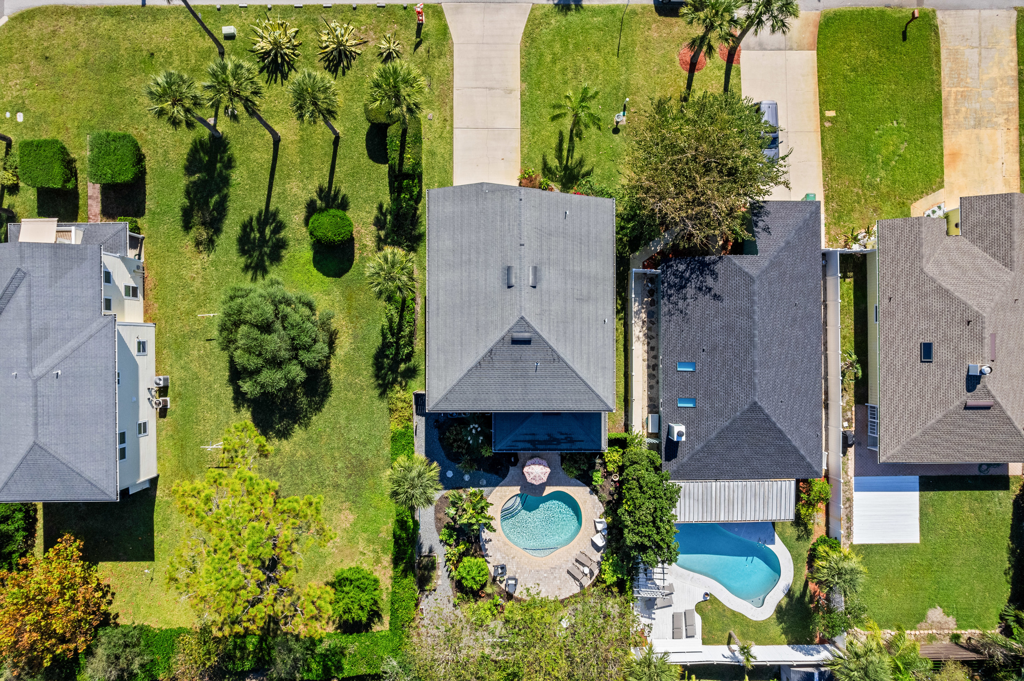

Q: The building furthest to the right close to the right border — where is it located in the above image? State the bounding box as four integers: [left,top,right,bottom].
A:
[867,193,1024,465]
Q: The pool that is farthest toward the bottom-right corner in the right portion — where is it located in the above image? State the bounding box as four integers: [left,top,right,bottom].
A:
[674,524,781,608]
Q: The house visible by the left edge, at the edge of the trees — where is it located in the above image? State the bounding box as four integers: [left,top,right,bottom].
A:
[0,220,157,503]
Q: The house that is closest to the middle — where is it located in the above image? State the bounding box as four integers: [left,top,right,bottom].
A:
[425,183,616,454]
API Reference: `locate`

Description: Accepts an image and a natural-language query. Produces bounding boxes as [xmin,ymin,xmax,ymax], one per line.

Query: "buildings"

[0,220,157,503]
[867,193,1024,465]
[425,183,616,454]
[659,200,831,480]
[777,663,830,681]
